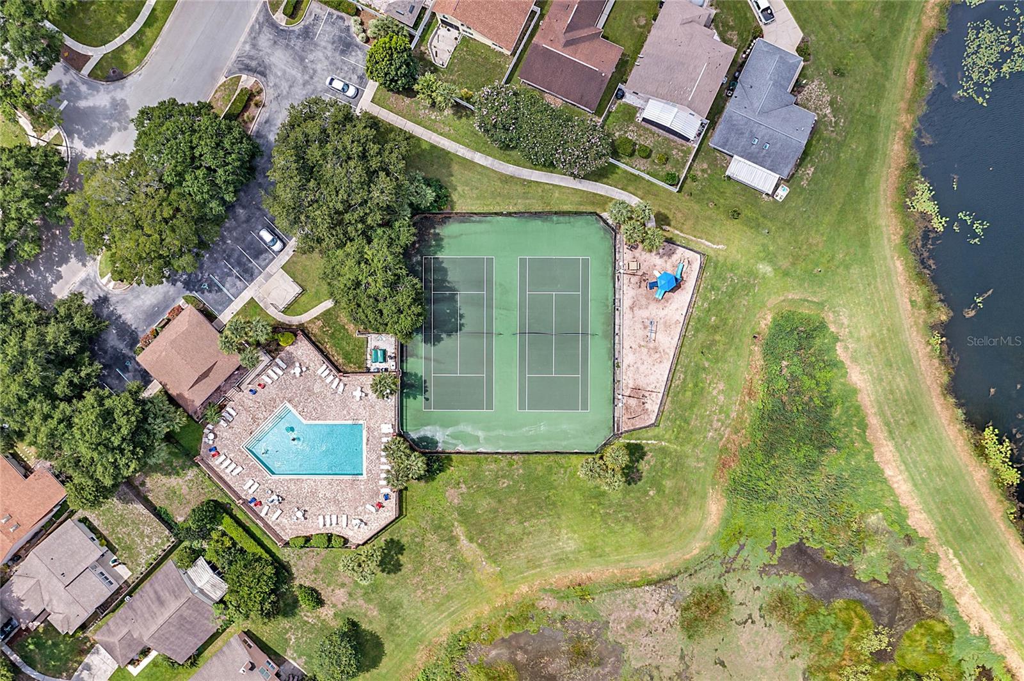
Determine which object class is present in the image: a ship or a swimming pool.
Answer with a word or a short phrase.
swimming pool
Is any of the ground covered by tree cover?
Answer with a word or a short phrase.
Yes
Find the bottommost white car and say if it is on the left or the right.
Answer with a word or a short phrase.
left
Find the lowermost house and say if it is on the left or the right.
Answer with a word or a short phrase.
left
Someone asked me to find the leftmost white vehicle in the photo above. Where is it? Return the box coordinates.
[258,227,284,253]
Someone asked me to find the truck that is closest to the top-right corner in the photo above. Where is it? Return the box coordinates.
[750,0,775,25]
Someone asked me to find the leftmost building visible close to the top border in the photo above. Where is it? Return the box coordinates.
[384,0,430,29]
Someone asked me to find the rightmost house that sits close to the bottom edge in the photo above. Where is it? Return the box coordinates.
[189,631,278,681]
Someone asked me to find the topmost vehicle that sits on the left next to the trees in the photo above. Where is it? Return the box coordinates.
[327,76,358,99]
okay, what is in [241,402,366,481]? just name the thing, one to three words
swimming pool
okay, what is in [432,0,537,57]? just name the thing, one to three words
house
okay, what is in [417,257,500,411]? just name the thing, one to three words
tennis court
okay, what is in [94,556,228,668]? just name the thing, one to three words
house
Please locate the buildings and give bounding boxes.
[519,0,623,114]
[432,0,537,57]
[189,631,278,681]
[625,0,736,142]
[0,518,126,634]
[384,0,430,29]
[708,39,816,194]
[0,450,70,561]
[94,556,228,668]
[137,306,242,415]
